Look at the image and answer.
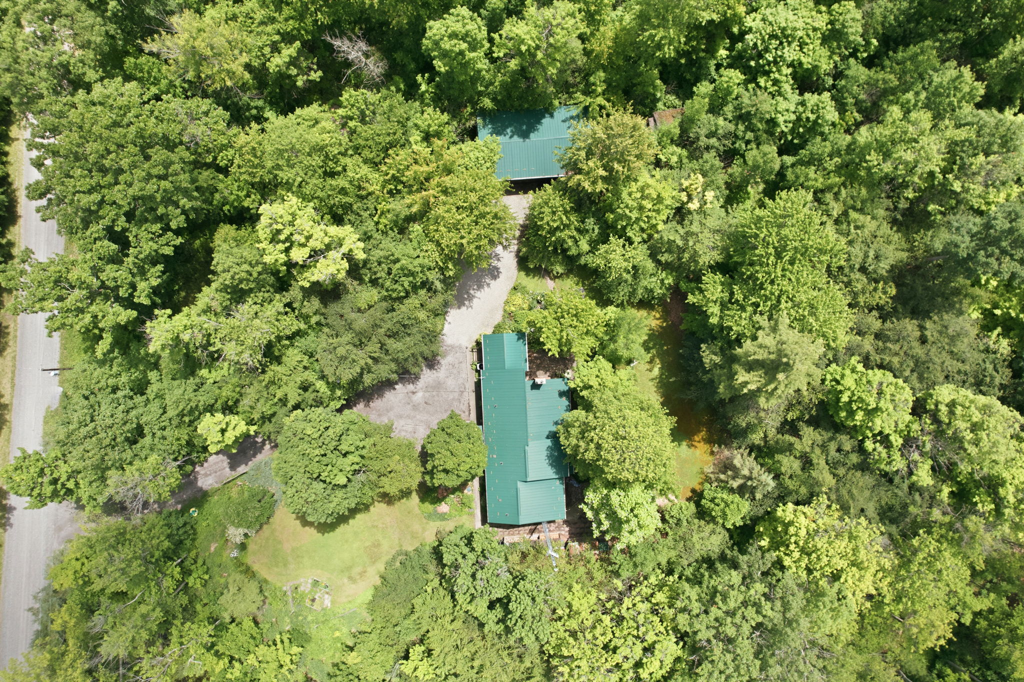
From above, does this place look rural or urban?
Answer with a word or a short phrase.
rural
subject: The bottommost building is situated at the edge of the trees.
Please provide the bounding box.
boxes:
[474,333,576,525]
